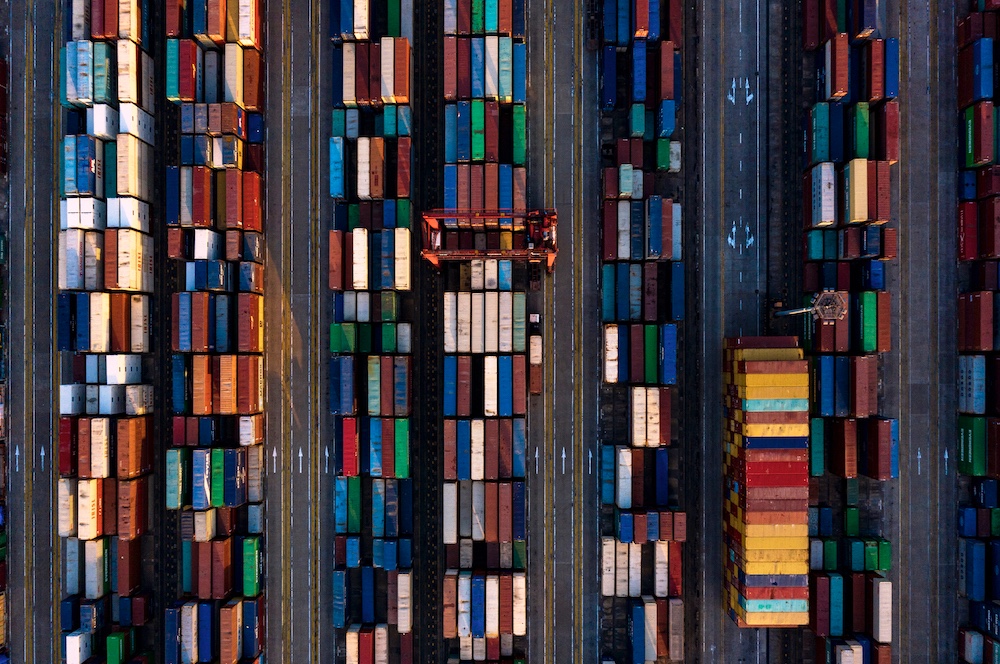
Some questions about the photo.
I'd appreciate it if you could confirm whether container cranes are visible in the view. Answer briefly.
Yes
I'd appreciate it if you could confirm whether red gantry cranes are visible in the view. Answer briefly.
Yes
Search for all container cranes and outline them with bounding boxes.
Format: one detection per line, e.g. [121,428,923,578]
[420,211,561,273]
